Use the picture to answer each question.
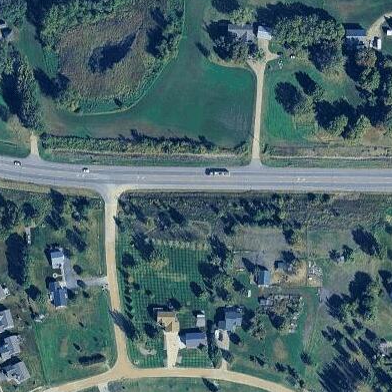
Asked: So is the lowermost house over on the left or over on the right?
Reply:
left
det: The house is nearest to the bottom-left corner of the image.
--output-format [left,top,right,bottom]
[2,359,29,387]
